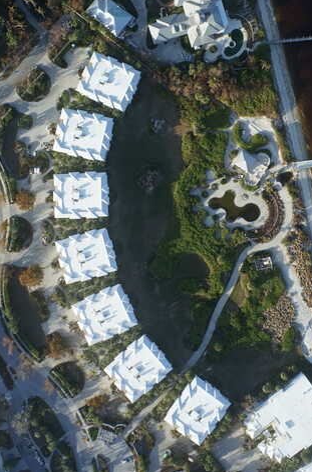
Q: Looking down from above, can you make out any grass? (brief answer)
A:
Yes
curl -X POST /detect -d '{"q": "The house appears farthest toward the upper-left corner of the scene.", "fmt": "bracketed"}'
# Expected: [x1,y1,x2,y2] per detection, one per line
[88,0,134,38]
